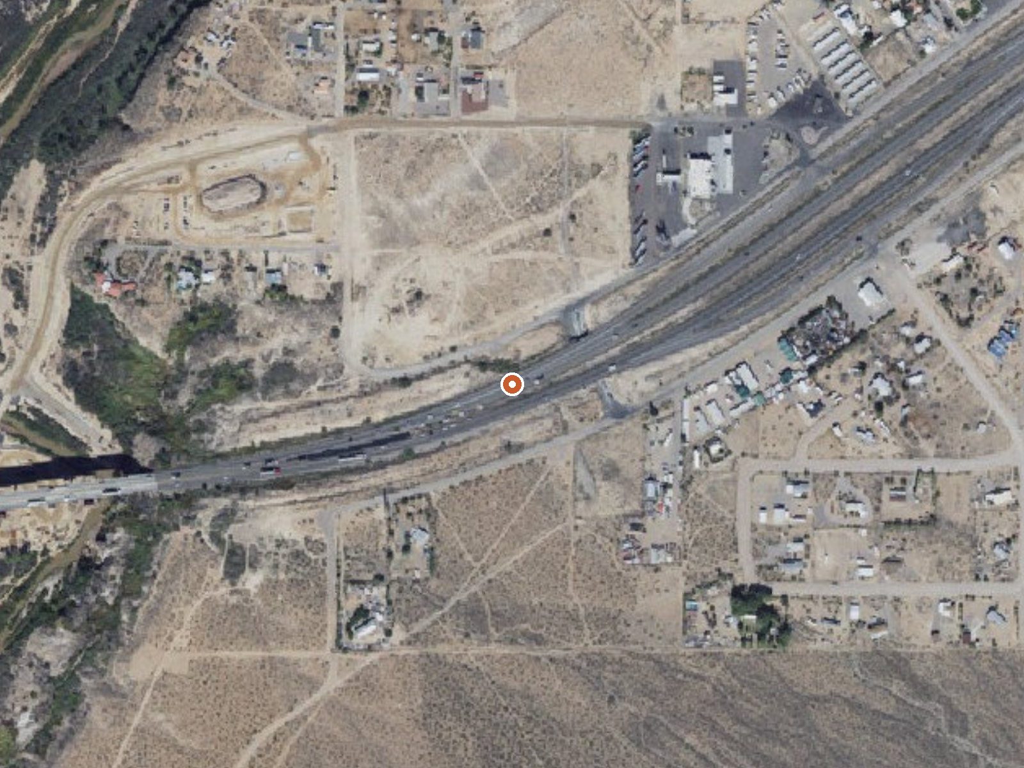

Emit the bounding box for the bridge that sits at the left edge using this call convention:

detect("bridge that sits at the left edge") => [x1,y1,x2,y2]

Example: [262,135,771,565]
[0,471,159,510]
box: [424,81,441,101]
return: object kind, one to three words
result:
house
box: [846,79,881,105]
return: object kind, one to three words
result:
shed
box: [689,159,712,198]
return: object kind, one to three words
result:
building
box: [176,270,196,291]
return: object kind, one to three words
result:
house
